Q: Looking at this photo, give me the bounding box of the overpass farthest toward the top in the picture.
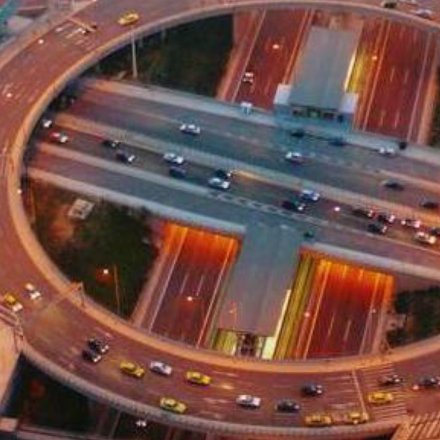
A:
[26,71,440,282]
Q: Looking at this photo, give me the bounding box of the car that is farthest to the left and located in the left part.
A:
[1,294,22,312]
